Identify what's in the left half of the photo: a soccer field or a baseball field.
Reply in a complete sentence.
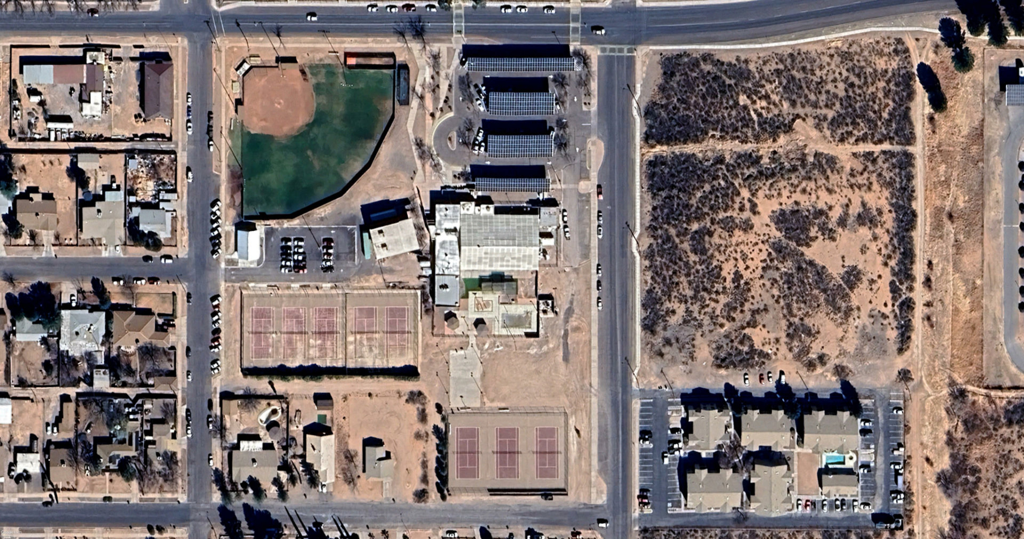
There is a baseball field in the left half of the photo.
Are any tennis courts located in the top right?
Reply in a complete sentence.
No, no tennis court appears in the top right.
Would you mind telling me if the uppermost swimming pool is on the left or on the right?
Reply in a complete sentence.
The uppermost swimming pool is on the left side of the image.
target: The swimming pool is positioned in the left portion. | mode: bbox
[258,407,280,427]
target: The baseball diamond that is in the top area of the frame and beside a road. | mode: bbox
[243,63,395,218]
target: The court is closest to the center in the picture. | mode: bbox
[385,307,410,359]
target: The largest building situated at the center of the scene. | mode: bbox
[429,196,560,306]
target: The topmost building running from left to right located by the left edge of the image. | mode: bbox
[23,61,86,83]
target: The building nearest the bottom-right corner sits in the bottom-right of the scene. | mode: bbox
[822,471,859,500]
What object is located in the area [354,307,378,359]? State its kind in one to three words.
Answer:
tennis court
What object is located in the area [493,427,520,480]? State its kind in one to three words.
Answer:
tennis court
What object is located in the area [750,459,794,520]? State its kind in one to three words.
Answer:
building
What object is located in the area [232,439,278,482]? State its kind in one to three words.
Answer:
house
